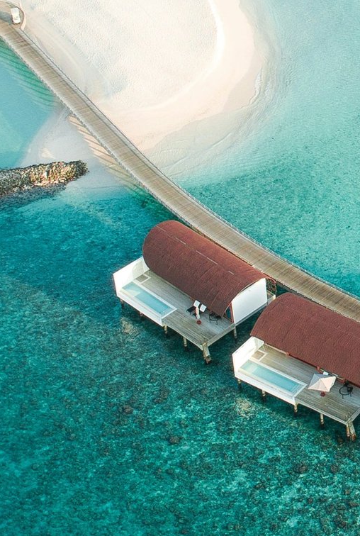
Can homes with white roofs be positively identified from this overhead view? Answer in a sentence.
No, no home with a white roof is visible in the view.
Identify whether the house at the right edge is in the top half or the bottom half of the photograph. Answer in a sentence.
It is in the bottom half that the house at the right edge appears.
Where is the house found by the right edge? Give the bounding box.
[233,293,360,447]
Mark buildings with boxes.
[114,226,272,374]
[233,293,360,447]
